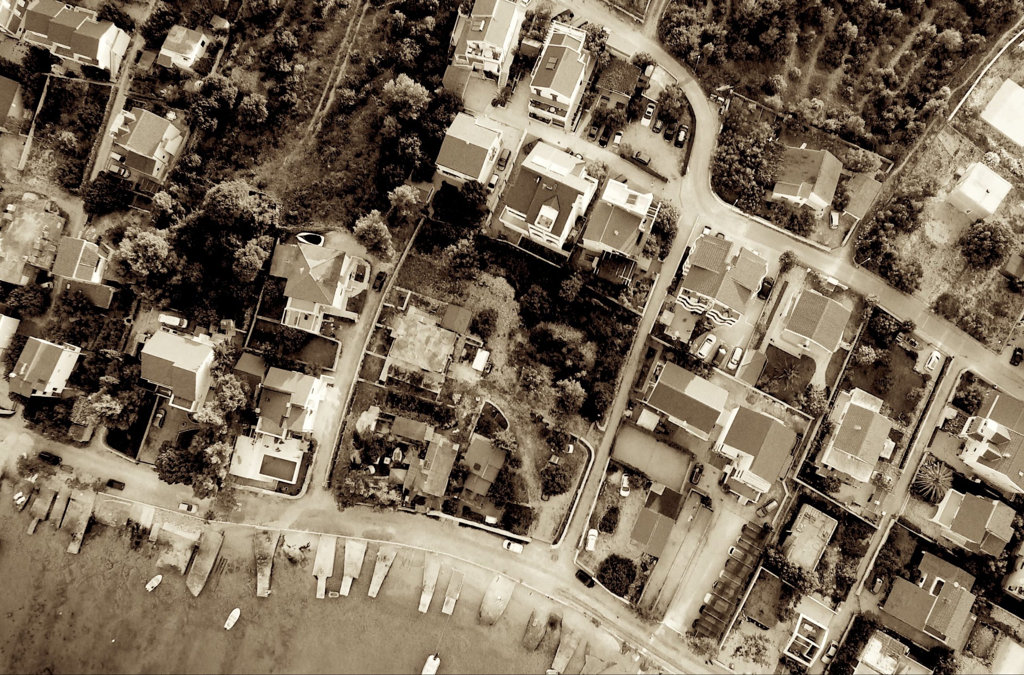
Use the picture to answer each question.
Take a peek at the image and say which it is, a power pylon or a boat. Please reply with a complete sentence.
Visible in the photo is a boat.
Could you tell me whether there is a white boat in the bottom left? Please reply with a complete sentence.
Yes, a white boat shows up in the bottom left.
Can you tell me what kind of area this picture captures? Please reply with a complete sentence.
What you see here is a residential area.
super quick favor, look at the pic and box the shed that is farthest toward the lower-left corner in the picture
[69,420,101,444]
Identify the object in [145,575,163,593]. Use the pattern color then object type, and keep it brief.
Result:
white boat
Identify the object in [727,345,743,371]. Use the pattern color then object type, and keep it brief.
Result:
white car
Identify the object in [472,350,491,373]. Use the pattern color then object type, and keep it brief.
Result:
white camper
